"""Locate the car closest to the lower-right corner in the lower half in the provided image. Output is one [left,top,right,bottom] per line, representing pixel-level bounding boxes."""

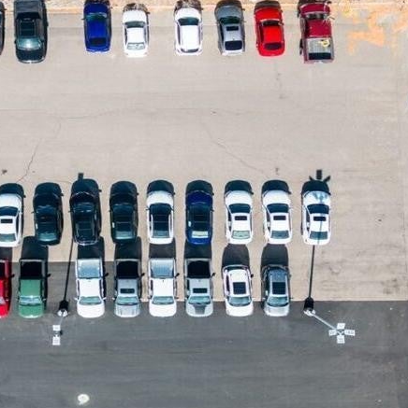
[261,265,294,318]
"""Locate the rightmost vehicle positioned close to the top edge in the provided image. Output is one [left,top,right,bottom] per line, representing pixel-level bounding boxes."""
[299,1,336,63]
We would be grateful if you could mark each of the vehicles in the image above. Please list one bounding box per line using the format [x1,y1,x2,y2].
[300,188,334,244]
[74,256,108,319]
[224,191,256,245]
[0,191,24,245]
[0,256,11,319]
[223,265,255,318]
[121,9,151,55]
[215,2,247,55]
[14,256,48,319]
[261,265,294,318]
[32,191,63,245]
[70,190,102,244]
[145,190,177,244]
[109,191,140,245]
[184,256,216,319]
[299,1,336,63]
[82,2,113,53]
[174,6,205,55]
[13,0,48,61]
[147,256,180,319]
[184,190,215,244]
[262,191,295,245]
[112,256,144,319]
[254,4,287,57]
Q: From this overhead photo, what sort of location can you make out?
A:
parking lot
